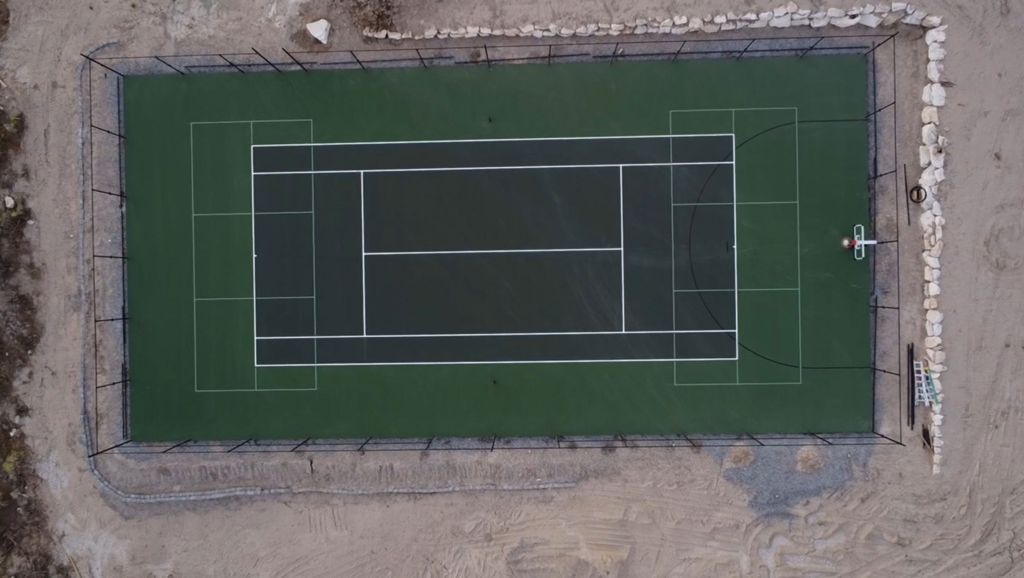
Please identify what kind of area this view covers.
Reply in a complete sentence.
The picture captures a sports ground.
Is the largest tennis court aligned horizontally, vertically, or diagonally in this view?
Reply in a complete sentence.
The largest tennis court is oriented horizontally.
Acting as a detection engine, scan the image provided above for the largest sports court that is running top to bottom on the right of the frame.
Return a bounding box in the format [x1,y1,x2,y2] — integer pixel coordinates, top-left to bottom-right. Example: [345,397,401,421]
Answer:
[670,107,801,385]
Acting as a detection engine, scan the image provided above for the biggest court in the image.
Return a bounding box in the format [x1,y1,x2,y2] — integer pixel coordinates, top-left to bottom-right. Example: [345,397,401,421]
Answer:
[124,55,873,441]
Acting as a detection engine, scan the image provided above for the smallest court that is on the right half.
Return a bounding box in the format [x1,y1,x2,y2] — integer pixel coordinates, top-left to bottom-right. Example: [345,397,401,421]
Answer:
[689,119,871,368]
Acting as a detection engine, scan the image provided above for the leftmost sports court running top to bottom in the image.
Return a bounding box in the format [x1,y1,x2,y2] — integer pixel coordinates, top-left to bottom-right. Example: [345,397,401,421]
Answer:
[191,119,317,391]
